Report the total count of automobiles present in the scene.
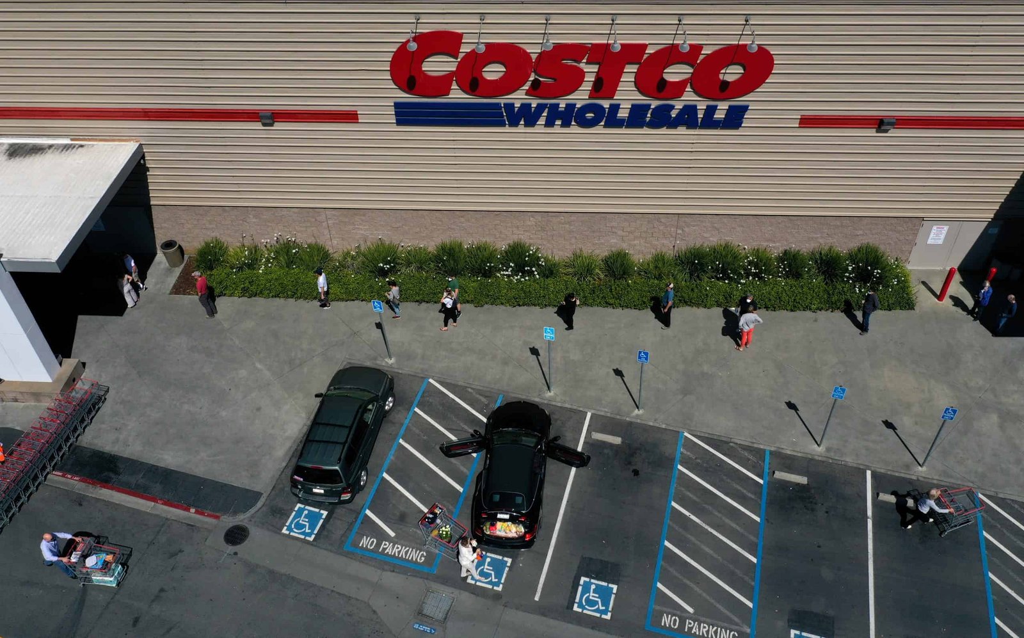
2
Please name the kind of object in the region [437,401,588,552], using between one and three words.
car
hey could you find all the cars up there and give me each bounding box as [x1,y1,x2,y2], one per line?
[287,367,390,508]
[437,401,588,552]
